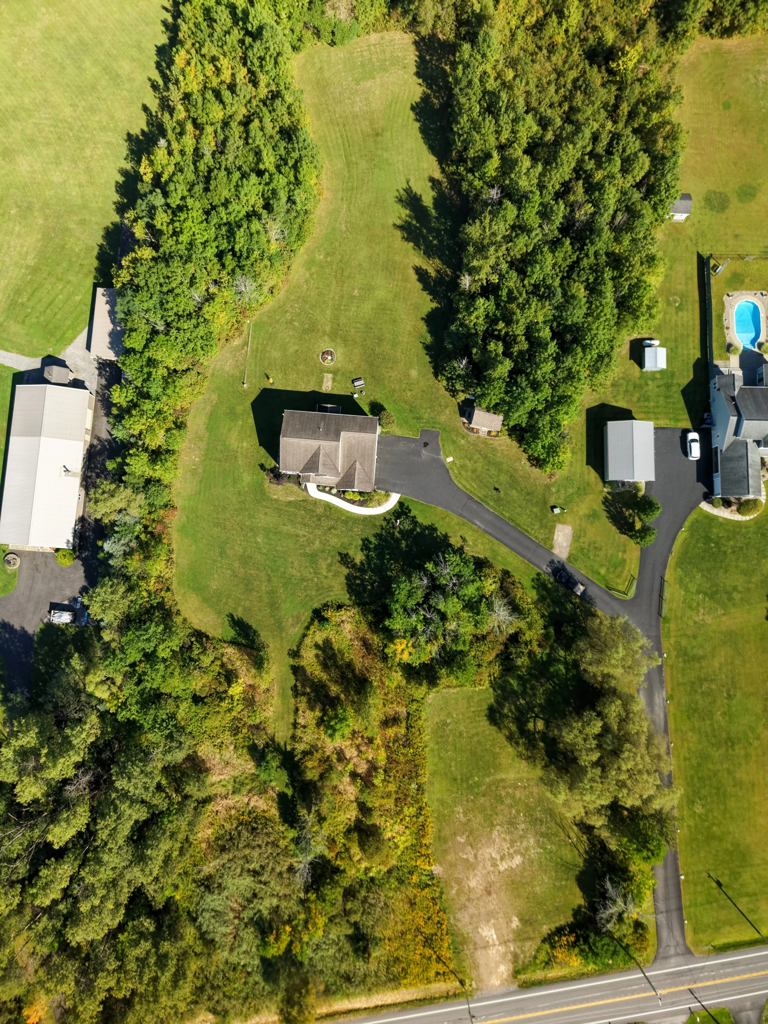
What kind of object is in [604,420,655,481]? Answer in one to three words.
building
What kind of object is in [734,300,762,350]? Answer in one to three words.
swimming pool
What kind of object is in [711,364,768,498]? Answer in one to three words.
house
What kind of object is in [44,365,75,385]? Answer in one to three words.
shed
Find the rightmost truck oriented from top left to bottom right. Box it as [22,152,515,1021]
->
[553,566,587,597]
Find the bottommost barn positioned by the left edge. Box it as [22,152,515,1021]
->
[0,384,95,548]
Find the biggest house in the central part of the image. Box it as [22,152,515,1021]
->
[278,404,380,493]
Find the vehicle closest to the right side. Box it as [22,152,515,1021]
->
[687,433,703,461]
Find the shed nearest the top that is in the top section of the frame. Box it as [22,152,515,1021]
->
[671,193,697,221]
